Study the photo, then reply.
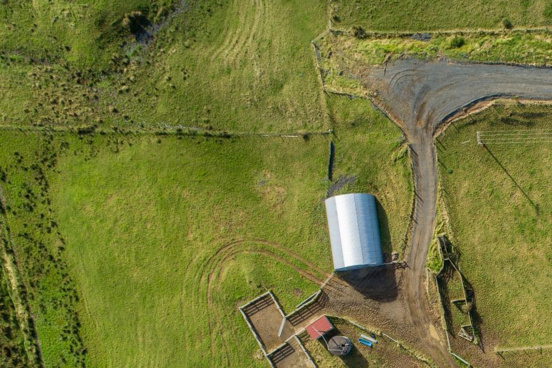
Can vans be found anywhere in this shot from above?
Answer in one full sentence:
No, the scene contains no van.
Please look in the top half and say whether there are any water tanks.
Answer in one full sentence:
No, no water tank can be made out in the top half.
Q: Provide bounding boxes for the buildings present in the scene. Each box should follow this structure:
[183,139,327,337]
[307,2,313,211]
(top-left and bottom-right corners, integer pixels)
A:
[306,316,334,340]
[326,192,383,271]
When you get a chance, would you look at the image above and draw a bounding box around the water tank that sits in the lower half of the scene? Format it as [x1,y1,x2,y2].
[322,333,355,358]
